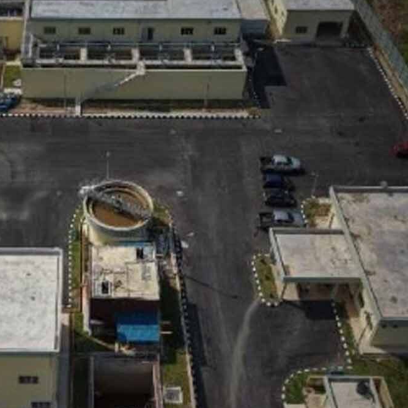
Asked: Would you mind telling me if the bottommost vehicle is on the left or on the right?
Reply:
right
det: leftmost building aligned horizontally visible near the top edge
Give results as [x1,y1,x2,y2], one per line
[22,0,270,103]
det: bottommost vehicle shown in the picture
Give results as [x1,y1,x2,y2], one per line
[258,206,307,226]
